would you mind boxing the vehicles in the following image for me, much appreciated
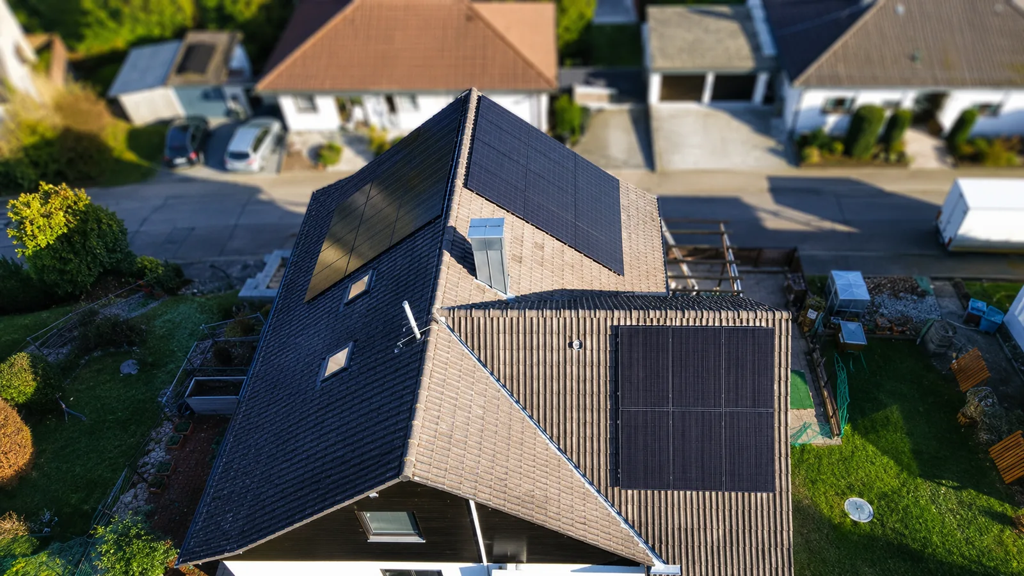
[929,173,1024,264]
[225,107,290,169]
[170,108,228,160]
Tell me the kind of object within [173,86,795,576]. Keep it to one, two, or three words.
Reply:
house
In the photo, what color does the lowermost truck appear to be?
white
